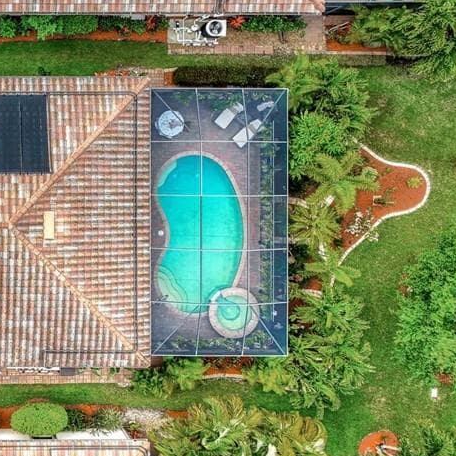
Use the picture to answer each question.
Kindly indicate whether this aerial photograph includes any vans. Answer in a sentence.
No, I can see no van in this picture.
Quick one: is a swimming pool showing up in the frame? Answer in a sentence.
Yes, looking at the shot, I can spot a swimming pool.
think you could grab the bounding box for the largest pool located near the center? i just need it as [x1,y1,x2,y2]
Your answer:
[152,149,250,319]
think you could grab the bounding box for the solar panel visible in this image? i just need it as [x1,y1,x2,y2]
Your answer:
[0,92,53,175]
